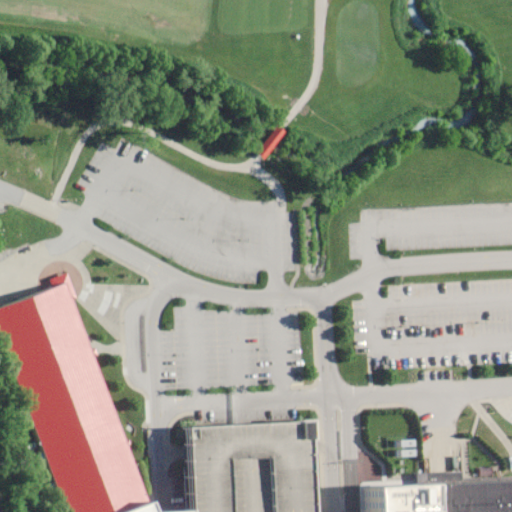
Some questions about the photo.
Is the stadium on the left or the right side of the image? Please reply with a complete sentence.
You can find the stadium on the left side of the picture.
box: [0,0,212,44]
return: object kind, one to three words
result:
sports field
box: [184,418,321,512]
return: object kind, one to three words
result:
building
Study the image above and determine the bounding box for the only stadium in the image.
[0,272,148,512]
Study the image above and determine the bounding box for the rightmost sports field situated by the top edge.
[336,0,380,86]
